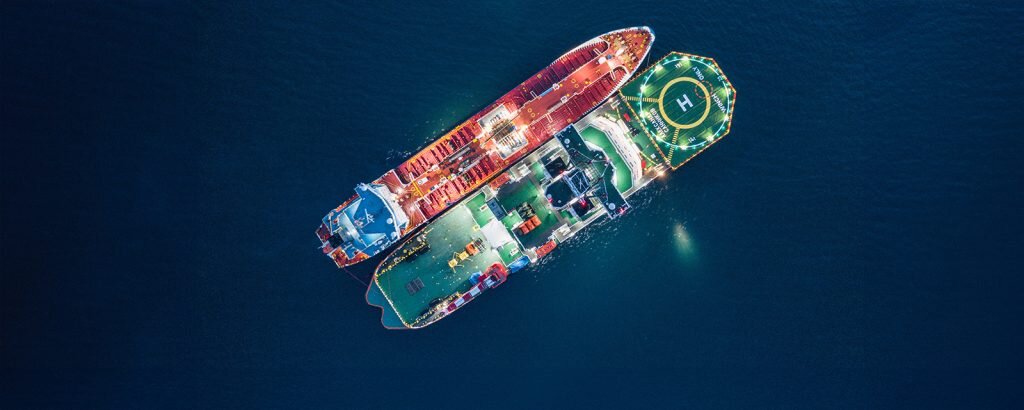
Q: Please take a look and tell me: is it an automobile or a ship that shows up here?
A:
ship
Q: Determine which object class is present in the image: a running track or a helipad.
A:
helipad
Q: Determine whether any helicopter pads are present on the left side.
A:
No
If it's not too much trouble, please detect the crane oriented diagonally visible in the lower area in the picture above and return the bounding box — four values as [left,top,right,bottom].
[446,263,508,313]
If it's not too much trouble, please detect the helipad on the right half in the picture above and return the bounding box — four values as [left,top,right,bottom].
[618,51,737,170]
